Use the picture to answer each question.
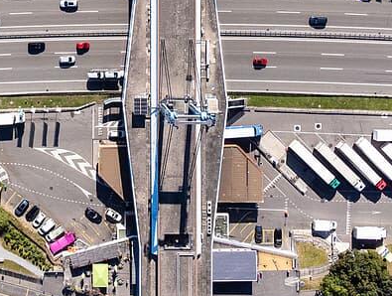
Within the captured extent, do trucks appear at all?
Yes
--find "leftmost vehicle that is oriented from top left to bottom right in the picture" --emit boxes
[84,208,102,223]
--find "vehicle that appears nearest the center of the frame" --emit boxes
[225,125,262,138]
